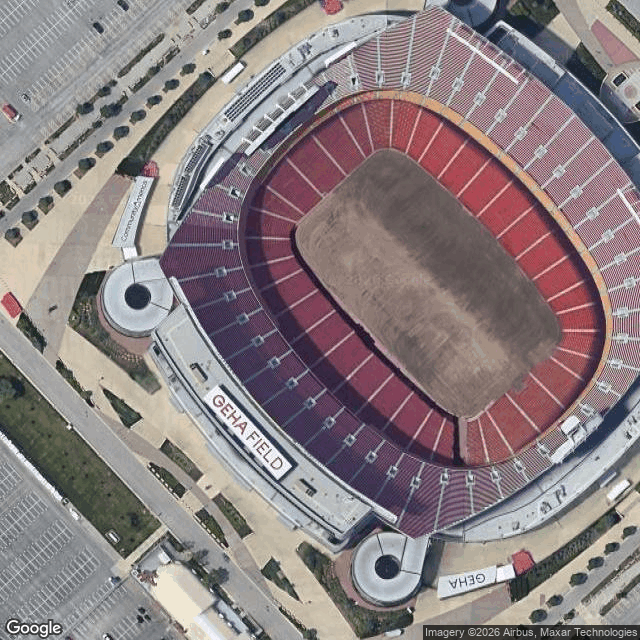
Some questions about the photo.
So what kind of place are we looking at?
sports ground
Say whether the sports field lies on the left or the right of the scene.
right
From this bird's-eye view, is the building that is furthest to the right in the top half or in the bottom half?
top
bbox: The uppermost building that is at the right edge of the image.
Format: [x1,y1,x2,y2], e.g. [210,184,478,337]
[601,60,640,125]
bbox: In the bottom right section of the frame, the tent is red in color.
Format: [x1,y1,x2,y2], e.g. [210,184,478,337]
[512,550,535,575]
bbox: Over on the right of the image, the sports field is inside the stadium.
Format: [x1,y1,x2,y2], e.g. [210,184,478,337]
[294,147,561,419]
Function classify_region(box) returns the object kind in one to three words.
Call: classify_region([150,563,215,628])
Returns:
building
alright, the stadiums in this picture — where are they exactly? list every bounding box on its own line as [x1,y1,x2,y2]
[146,4,640,553]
